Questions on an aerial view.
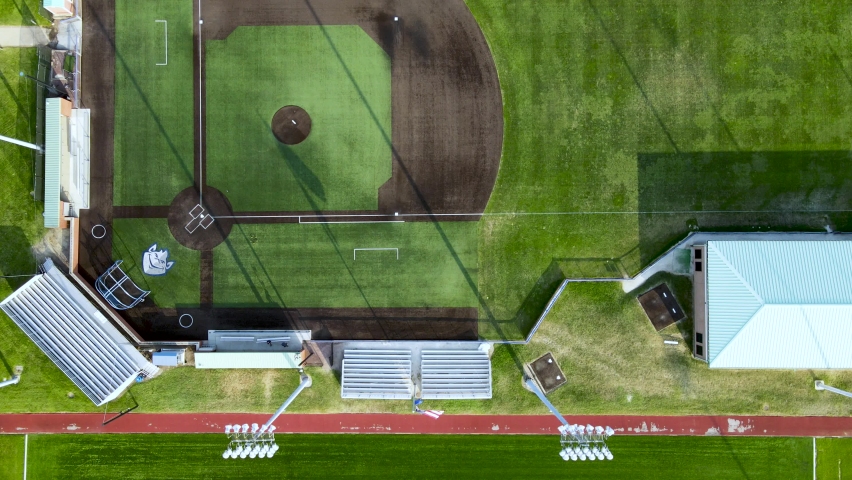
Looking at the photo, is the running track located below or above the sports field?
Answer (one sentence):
In the image, the running track sits above the sports field.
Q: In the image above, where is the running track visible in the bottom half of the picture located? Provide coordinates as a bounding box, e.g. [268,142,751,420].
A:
[0,414,852,436]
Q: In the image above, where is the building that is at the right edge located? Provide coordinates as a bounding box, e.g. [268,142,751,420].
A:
[692,240,852,369]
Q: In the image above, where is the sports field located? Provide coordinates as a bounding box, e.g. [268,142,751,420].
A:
[26,434,814,480]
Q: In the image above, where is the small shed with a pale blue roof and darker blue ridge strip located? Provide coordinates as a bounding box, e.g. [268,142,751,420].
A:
[152,349,182,365]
